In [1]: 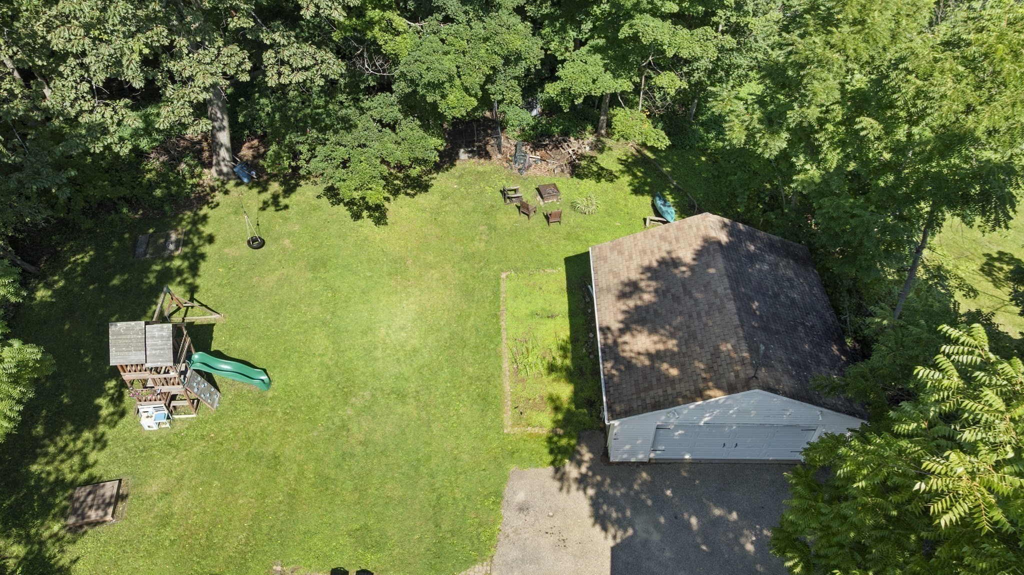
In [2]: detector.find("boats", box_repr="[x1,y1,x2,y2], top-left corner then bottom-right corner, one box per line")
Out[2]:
[655,191,675,223]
